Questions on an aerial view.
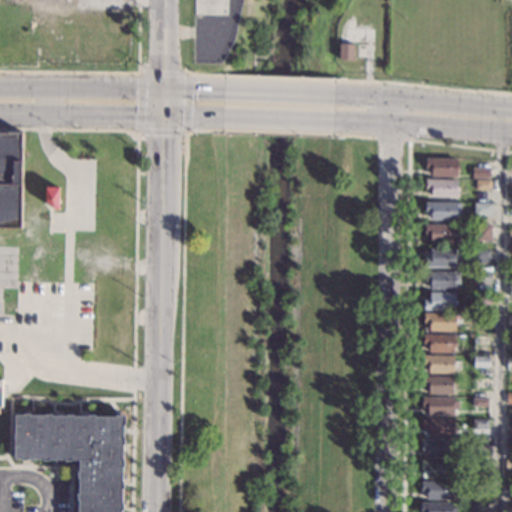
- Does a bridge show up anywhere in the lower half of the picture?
No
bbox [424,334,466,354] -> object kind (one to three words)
house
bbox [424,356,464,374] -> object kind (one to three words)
house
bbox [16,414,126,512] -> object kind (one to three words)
building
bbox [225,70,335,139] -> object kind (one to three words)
bridge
